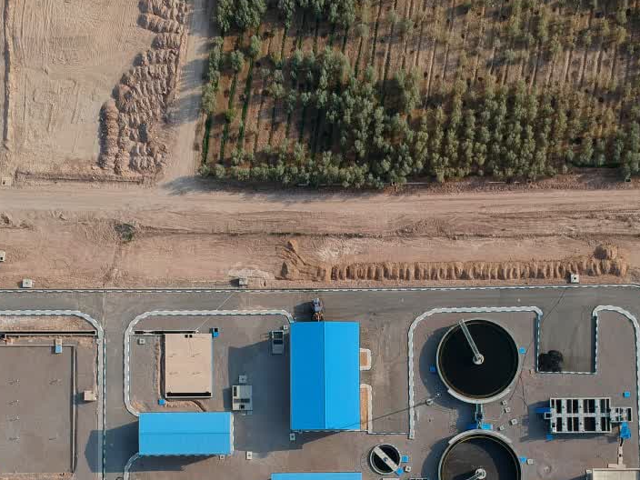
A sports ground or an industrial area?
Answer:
industrial area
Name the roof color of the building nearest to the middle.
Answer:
blue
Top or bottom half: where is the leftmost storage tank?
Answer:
bottom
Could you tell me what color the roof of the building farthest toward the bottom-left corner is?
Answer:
blue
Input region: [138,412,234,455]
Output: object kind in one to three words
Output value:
building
